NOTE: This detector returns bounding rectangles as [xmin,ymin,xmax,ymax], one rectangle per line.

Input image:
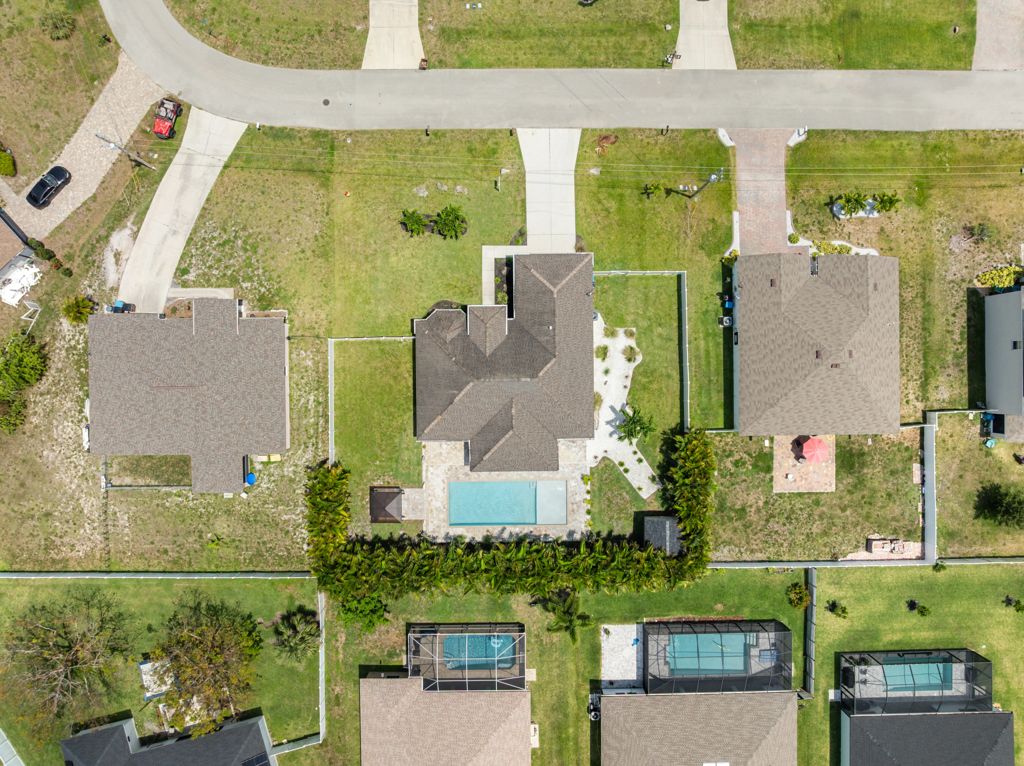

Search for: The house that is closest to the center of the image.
[416,253,594,472]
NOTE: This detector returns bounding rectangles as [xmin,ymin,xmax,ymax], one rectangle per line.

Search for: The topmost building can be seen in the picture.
[0,210,36,284]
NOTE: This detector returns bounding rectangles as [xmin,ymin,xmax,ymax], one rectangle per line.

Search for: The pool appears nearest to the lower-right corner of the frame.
[881,664,954,693]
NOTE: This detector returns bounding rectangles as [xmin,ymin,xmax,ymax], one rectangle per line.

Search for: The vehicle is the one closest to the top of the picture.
[153,95,185,141]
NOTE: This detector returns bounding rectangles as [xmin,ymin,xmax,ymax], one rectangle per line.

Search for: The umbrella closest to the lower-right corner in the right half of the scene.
[802,437,829,463]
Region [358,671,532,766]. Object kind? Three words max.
house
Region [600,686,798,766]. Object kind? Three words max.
house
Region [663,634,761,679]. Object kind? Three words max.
swimming pool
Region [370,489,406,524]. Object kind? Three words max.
gazebo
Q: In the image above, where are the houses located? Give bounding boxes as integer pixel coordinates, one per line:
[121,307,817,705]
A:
[600,686,798,766]
[358,671,532,766]
[0,210,36,284]
[416,253,594,472]
[841,707,1014,766]
[986,284,1024,445]
[734,254,900,436]
[85,296,291,494]
[59,714,278,766]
